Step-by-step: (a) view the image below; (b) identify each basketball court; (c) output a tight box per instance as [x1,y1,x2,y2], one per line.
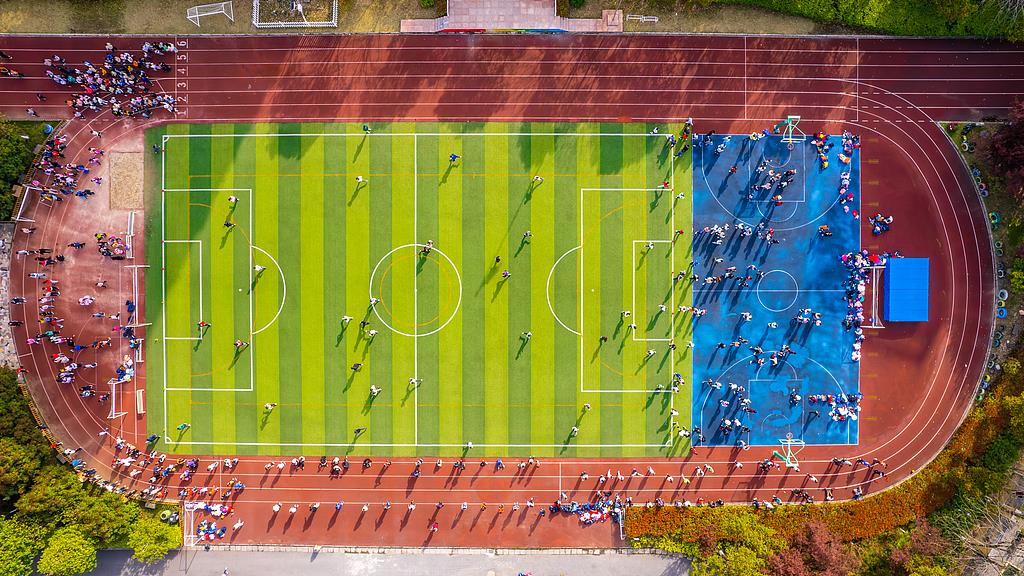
[693,134,860,446]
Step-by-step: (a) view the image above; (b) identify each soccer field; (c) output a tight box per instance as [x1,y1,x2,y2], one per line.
[145,123,693,457]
